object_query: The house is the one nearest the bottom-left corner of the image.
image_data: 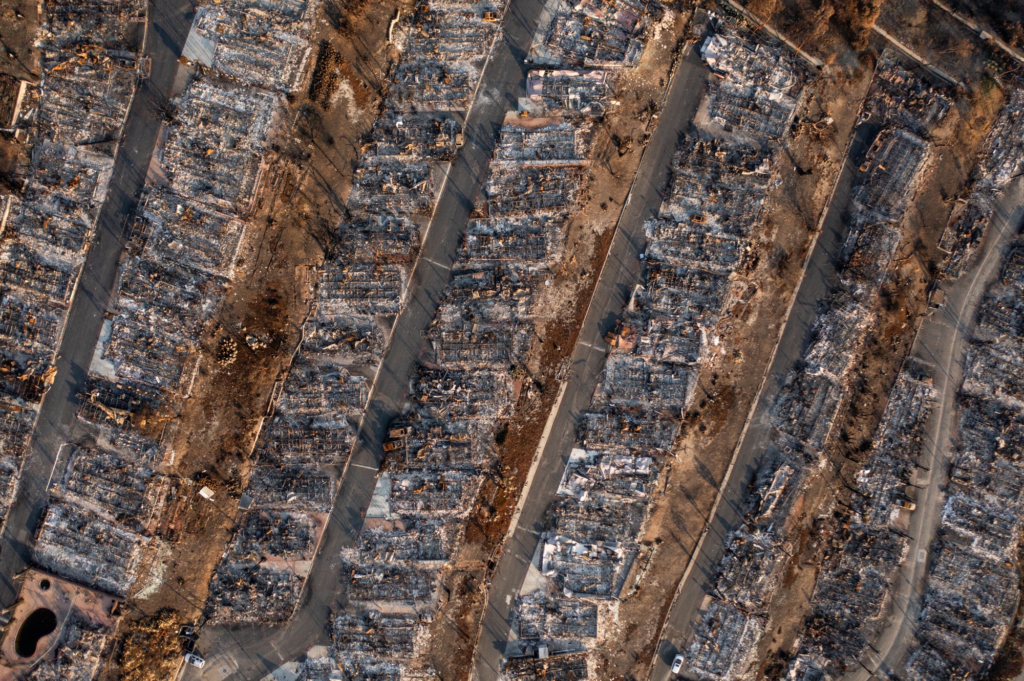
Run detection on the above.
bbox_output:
[33,626,126,681]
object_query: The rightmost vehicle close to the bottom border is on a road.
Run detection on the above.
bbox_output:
[670,653,684,676]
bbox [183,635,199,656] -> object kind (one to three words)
vehicle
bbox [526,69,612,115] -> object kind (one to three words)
house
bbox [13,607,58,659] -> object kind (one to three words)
swimming pool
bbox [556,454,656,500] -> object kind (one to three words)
house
